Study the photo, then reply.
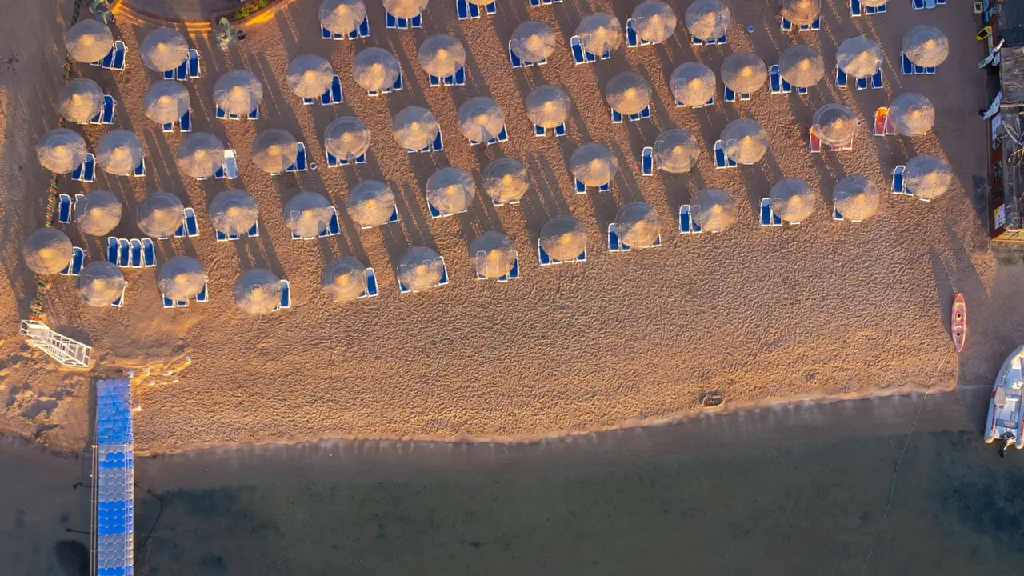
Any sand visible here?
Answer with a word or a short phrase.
Yes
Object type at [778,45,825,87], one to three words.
umbrella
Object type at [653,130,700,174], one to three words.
umbrella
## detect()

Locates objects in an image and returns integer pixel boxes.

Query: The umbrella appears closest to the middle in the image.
[468,231,517,277]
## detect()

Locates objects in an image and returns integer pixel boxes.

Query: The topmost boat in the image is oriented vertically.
[952,292,966,352]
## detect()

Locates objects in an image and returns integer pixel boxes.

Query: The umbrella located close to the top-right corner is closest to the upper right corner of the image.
[901,25,949,68]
